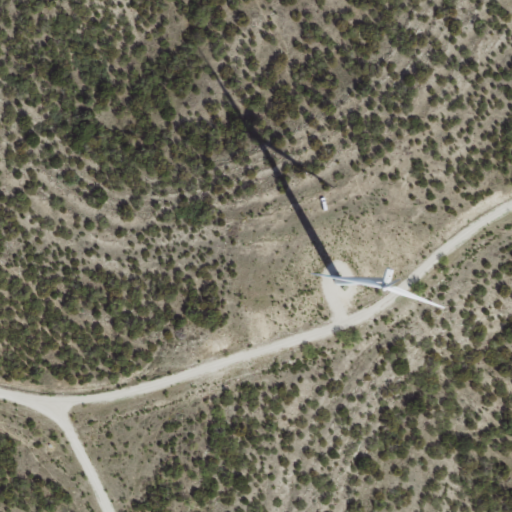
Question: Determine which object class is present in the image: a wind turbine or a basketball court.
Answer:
wind turbine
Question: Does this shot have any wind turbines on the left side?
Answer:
No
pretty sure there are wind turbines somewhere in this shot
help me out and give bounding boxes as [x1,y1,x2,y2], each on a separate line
[314,268,441,309]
